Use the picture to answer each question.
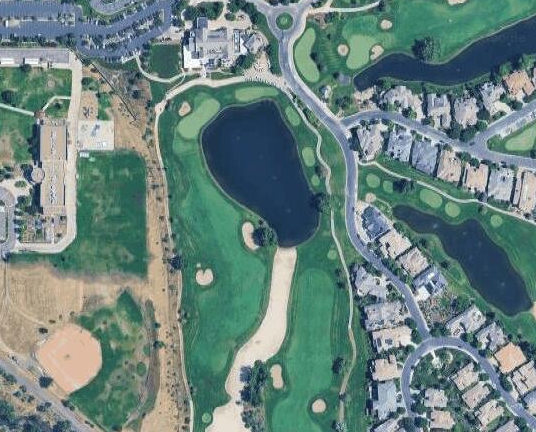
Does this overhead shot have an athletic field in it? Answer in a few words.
Yes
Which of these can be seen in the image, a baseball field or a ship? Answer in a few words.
baseball field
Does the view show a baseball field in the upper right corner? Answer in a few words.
No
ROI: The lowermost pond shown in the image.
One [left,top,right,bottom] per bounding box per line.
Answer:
[392,206,530,315]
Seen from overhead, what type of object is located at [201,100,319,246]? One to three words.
pond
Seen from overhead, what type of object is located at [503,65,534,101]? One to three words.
house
